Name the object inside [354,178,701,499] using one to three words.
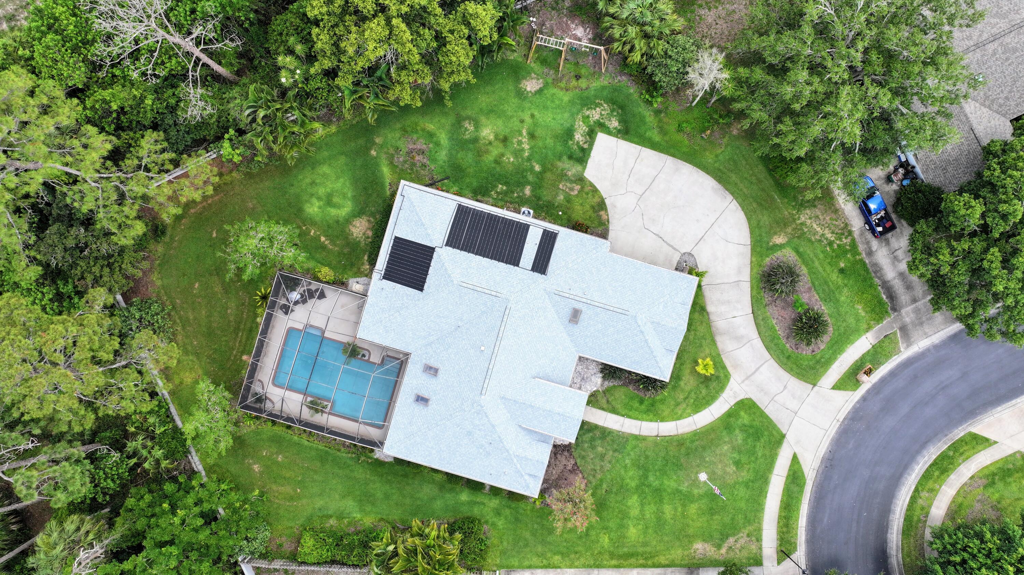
house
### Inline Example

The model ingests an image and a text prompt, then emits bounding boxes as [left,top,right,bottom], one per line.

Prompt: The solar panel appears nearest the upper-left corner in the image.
[379,235,434,292]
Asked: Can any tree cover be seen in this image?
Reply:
Yes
